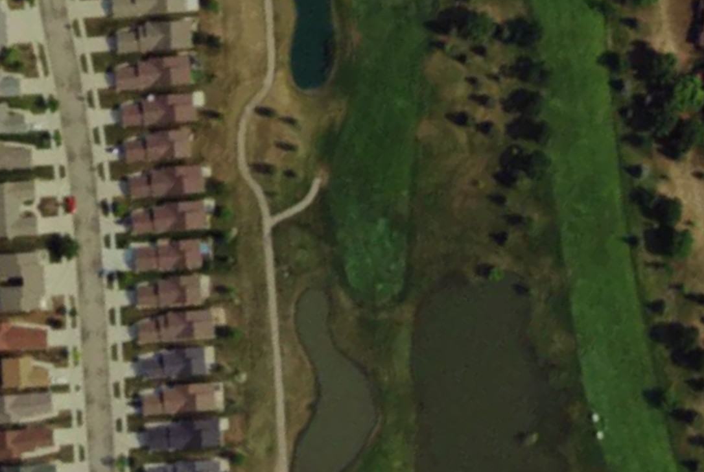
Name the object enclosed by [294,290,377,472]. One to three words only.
pond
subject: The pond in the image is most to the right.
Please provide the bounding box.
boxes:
[412,279,569,472]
